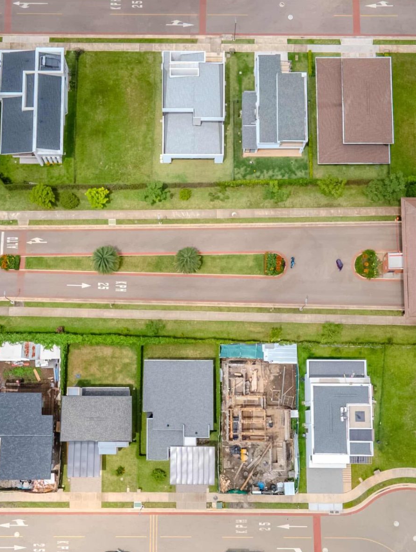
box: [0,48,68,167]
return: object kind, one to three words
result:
house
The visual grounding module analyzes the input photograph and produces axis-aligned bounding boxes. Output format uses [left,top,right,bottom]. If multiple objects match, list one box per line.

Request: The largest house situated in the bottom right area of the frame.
[301,360,373,490]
